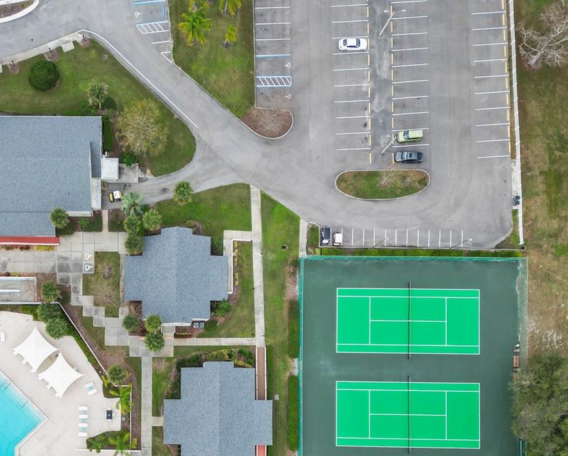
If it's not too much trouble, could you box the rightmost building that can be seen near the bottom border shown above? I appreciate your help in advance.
[164,362,273,456]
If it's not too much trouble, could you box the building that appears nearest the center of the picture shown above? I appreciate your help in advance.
[125,227,228,322]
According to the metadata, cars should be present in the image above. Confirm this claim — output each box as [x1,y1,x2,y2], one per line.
[396,149,424,163]
[339,34,368,49]
[398,128,424,142]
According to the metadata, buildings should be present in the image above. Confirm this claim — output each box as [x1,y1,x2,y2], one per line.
[125,227,228,322]
[0,115,118,246]
[164,362,273,456]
